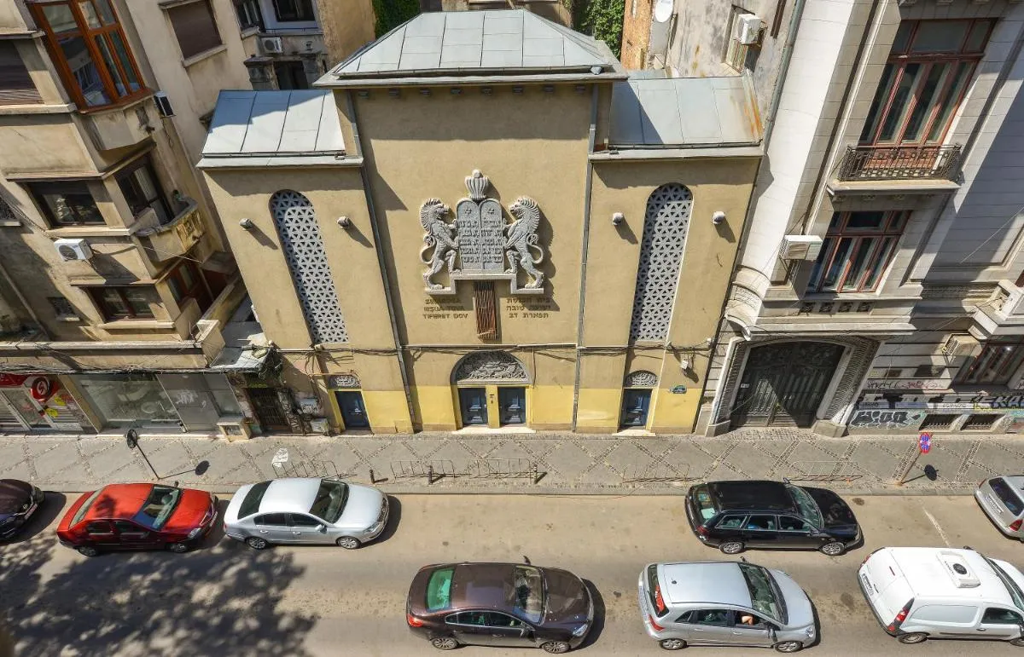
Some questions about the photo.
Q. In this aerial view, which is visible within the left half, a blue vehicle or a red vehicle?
red vehicle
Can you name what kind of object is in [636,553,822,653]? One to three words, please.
car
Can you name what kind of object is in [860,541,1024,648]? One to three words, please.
van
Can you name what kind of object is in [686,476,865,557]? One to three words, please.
car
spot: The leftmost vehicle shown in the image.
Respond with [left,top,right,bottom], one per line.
[0,476,49,548]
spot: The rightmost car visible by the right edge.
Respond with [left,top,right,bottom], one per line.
[982,479,1024,550]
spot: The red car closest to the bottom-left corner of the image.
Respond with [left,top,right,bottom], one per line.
[58,478,223,558]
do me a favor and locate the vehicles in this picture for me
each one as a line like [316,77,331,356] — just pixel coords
[405,552,595,653]
[219,474,390,553]
[0,476,49,548]
[58,478,223,558]
[860,541,1024,648]
[636,553,822,653]
[686,476,865,557]
[982,479,1024,550]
